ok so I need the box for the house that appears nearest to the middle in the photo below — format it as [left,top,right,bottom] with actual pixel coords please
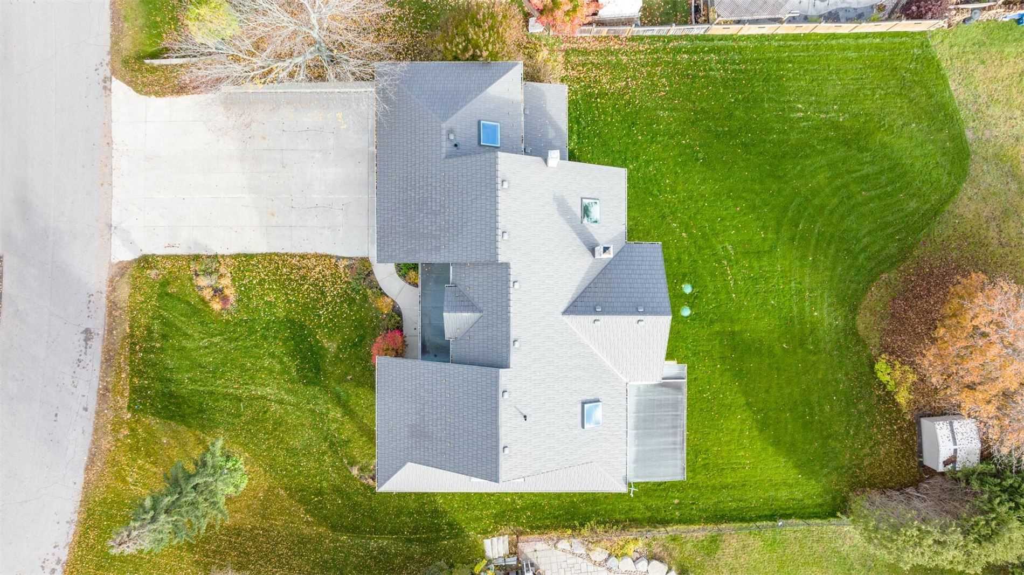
[374,60,686,494]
